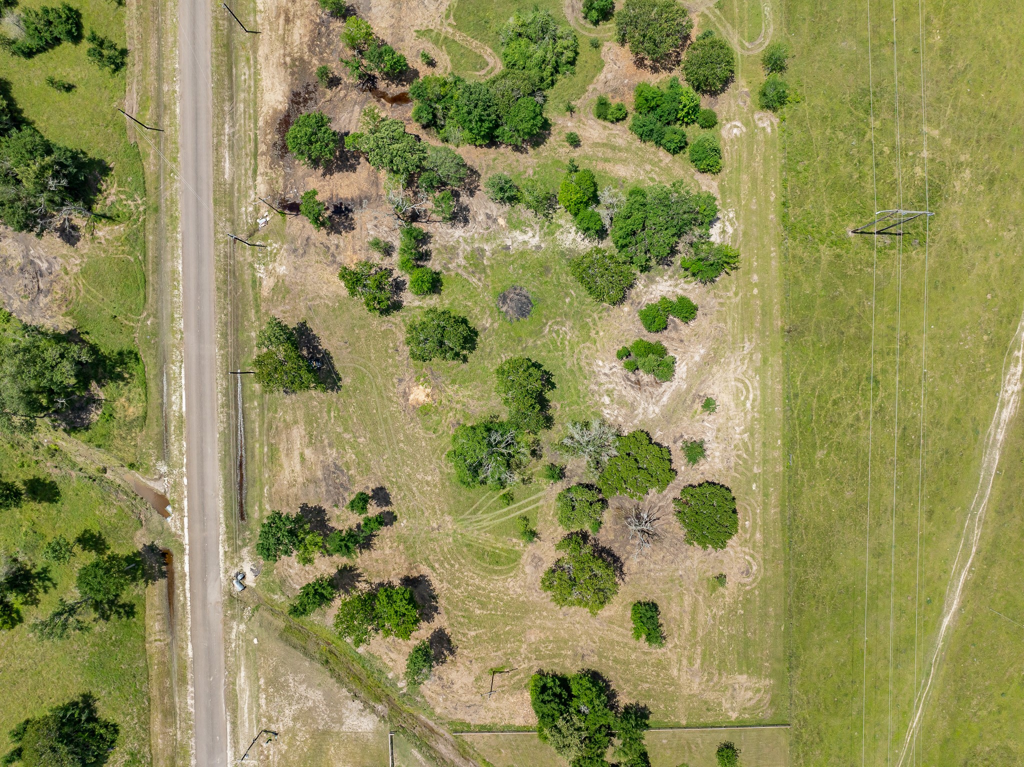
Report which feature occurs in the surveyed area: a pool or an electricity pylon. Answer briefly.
electricity pylon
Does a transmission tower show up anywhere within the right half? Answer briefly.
Yes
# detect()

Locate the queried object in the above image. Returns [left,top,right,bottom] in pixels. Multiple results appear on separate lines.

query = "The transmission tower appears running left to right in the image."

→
[850,209,934,234]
